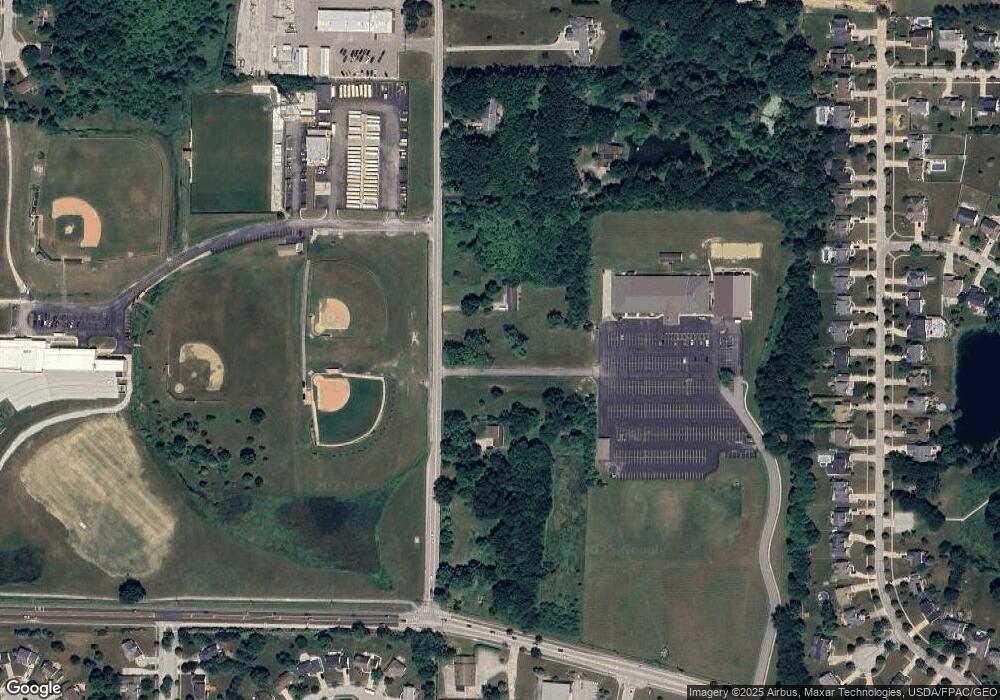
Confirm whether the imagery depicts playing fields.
Yes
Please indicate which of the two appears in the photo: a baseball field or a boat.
baseball field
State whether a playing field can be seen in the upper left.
Yes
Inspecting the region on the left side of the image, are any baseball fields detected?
Yes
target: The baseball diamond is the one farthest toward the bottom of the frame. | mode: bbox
[305,369,386,446]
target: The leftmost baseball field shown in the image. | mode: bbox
[37,197,161,280]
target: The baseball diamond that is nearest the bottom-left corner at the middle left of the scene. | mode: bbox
[165,334,224,401]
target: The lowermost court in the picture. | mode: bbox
[702,238,762,260]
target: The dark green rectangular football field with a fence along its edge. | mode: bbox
[189,94,279,213]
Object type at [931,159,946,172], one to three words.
swimming pool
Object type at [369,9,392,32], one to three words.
building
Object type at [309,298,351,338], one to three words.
baseball field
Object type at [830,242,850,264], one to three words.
house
